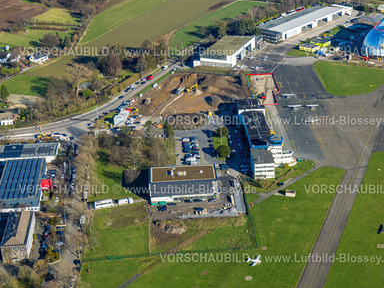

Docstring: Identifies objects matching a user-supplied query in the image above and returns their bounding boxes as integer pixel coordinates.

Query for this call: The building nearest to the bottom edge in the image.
[1,209,33,261]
